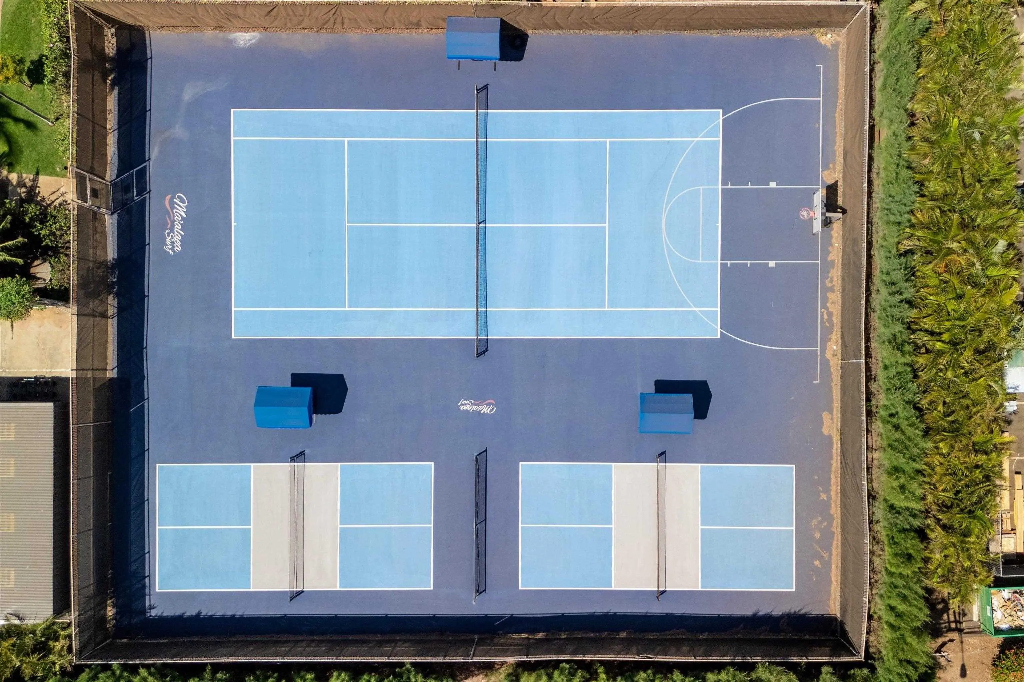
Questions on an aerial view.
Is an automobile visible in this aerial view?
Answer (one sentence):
No, there's no automobile here.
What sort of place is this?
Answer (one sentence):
The area seen from above is a sports ground.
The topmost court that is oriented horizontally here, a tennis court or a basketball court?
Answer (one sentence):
Looking closely, the topmost court that is oriented horizontally is a tennis court.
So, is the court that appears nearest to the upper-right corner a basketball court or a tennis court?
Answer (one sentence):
The court that appears nearest to the upper-right corner appears to be a basketball court.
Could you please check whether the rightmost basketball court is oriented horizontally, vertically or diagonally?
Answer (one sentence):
The rightmost basketball court is laid out vertically.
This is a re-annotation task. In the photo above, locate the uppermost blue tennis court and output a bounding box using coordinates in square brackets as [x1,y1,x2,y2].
[231,109,722,339]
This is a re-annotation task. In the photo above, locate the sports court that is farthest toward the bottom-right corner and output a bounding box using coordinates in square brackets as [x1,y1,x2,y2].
[519,462,795,591]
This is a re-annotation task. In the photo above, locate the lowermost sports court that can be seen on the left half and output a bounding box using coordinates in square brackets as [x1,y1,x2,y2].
[156,463,433,592]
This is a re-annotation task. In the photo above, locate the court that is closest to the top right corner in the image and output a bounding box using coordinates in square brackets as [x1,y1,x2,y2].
[662,64,822,383]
